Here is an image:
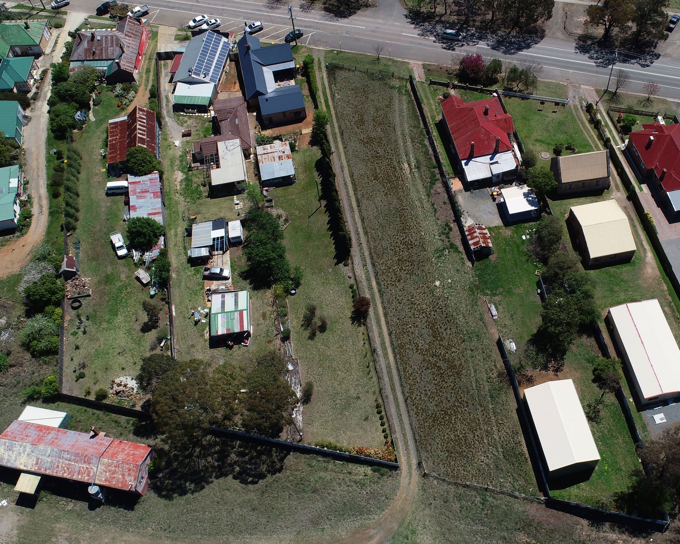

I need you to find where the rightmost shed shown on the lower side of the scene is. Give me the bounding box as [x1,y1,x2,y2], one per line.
[608,299,680,407]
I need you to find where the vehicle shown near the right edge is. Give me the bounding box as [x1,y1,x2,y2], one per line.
[666,12,680,31]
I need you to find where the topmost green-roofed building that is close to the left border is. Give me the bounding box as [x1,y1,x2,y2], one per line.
[0,20,54,62]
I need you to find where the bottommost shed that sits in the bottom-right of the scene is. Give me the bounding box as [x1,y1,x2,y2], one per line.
[523,379,601,477]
